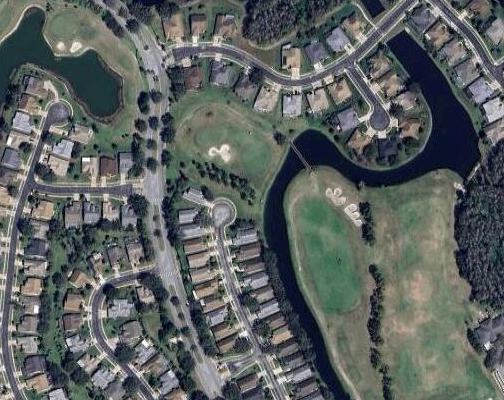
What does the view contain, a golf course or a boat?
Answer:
golf course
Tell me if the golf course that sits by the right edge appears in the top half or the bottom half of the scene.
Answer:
bottom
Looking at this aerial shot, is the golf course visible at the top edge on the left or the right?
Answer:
left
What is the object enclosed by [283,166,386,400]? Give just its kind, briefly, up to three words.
golf course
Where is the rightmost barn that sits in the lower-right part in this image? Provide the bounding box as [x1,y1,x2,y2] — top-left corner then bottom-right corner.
[471,313,504,359]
